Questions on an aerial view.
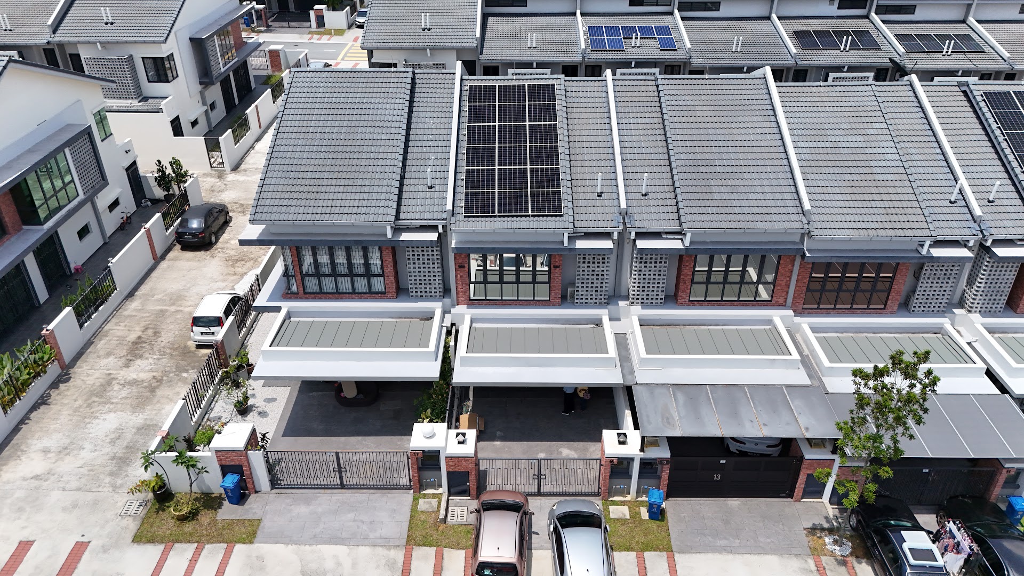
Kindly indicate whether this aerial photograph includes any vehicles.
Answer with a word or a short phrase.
Yes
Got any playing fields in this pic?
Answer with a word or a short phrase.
No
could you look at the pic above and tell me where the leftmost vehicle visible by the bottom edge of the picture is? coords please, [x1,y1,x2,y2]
[470,488,533,576]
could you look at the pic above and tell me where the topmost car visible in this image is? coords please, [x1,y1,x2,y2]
[356,6,369,25]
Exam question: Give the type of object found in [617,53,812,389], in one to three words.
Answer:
house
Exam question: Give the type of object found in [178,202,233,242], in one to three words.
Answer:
car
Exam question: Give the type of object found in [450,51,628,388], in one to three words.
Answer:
house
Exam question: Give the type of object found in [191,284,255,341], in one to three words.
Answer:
car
